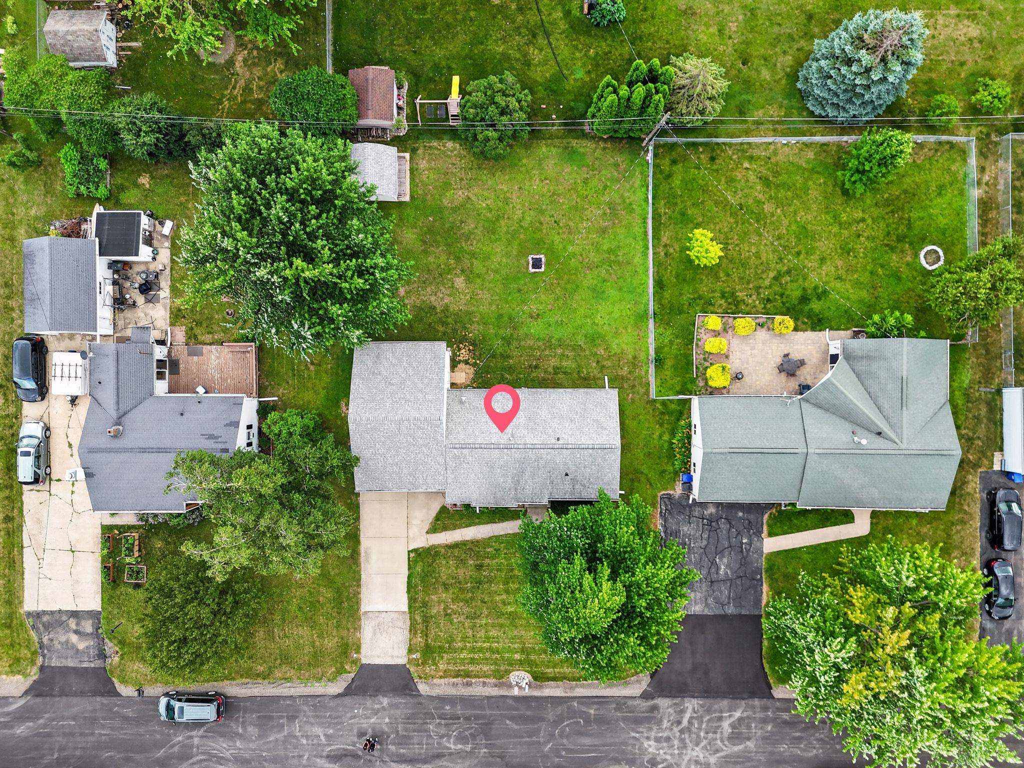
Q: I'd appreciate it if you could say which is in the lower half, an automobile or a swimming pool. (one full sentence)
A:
It is an automobile that can be seen in the lower half.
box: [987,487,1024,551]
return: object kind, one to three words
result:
car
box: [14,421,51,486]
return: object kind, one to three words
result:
car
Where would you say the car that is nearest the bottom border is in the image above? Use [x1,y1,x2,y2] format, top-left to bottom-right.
[158,692,223,725]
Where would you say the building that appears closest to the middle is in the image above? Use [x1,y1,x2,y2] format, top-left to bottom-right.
[347,340,626,514]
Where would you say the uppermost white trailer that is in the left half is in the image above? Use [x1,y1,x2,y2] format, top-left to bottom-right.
[51,351,88,411]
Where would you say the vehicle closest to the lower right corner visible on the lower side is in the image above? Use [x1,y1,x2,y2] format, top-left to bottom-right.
[985,560,1019,619]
